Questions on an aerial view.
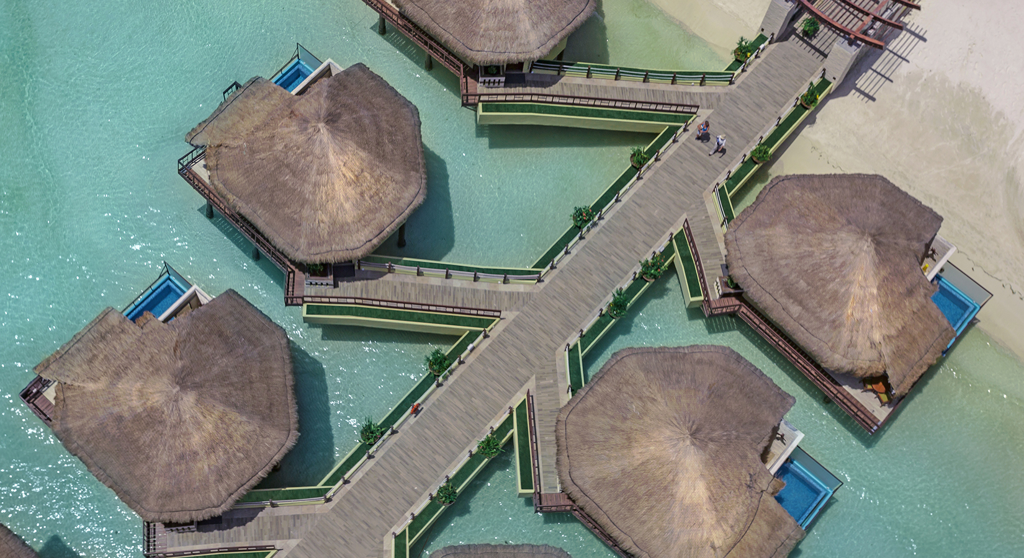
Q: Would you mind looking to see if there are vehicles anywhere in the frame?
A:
No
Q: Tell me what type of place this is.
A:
residential area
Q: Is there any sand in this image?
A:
Yes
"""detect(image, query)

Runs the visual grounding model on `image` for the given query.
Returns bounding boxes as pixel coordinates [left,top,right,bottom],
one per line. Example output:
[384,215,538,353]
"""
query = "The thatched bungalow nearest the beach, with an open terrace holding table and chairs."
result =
[707,173,956,437]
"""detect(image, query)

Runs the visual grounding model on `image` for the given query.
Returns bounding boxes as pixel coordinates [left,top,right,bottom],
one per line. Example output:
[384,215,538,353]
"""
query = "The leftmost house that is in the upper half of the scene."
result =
[179,60,430,306]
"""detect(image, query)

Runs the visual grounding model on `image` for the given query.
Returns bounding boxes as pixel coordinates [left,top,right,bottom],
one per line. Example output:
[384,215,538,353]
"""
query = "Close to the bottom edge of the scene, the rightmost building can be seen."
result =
[538,343,808,558]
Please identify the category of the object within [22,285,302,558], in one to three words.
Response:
house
